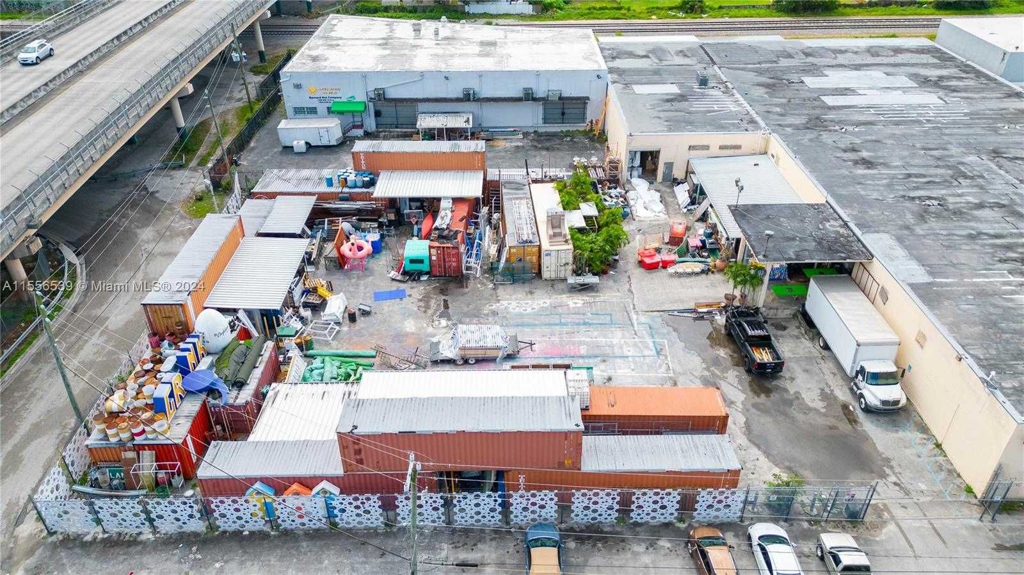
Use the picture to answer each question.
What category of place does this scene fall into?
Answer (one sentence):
The picture captures an industrial area.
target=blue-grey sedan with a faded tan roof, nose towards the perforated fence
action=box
[521,525,569,575]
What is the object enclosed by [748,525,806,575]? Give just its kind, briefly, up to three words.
car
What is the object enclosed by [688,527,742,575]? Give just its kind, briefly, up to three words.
car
